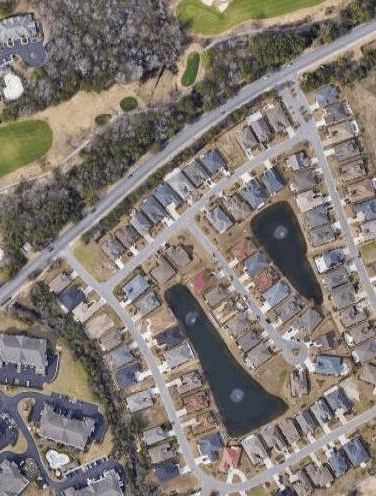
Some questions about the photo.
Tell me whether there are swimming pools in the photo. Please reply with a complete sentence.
Yes, a swimming pool appears in the view.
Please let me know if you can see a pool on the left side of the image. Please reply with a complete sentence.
Yes, looking on the left side of the image, one can make out a pool.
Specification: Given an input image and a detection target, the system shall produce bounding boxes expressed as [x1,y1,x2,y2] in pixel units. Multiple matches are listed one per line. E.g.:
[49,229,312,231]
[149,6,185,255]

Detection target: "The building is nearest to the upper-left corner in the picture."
[0,14,38,43]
